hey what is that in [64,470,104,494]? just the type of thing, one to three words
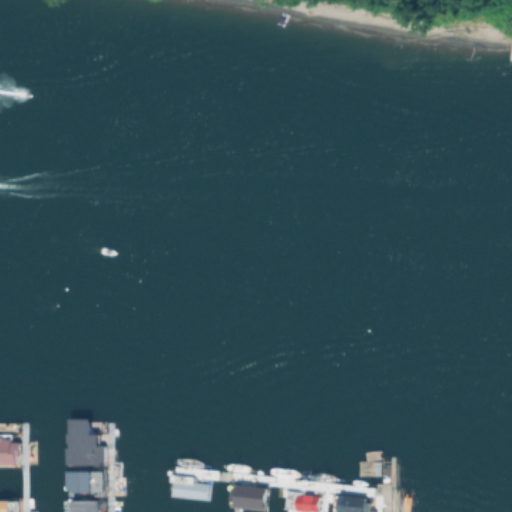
house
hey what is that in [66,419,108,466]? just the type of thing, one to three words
house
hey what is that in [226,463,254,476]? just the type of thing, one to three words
boat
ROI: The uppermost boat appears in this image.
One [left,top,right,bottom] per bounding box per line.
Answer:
[277,12,290,28]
